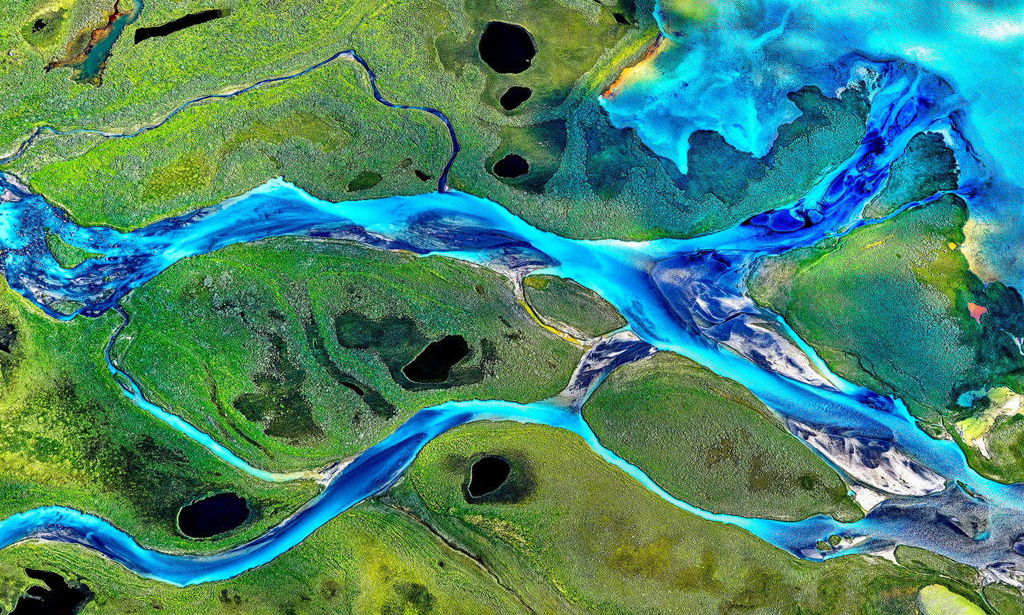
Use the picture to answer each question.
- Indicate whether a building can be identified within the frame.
No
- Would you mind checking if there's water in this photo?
Yes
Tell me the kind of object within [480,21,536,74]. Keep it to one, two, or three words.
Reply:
pond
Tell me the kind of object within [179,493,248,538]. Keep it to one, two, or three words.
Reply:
pond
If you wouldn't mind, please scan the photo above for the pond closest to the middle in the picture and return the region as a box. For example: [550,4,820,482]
[403,335,468,382]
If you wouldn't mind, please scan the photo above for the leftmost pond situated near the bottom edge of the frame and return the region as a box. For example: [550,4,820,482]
[9,570,94,615]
